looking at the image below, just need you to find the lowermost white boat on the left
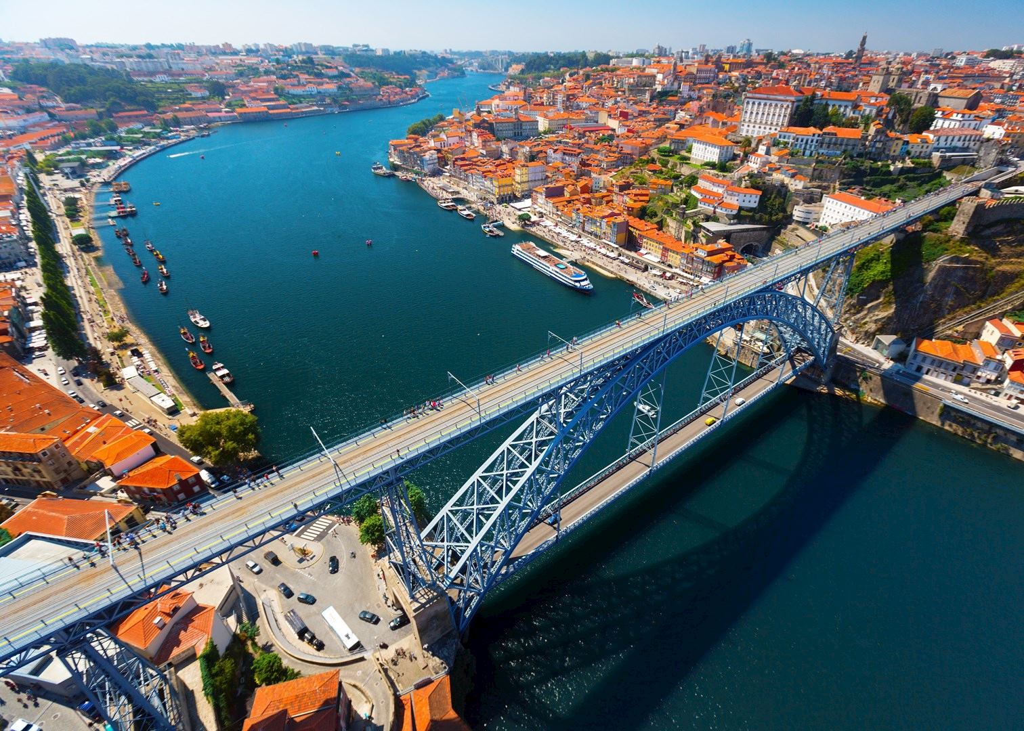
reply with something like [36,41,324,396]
[211,359,231,382]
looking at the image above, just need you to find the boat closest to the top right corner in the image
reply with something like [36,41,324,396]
[631,292,652,308]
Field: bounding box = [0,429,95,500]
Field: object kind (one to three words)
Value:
house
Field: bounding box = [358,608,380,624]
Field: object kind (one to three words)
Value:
car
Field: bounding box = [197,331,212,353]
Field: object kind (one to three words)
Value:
boat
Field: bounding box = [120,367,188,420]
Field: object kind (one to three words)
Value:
building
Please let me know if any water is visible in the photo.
Yes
